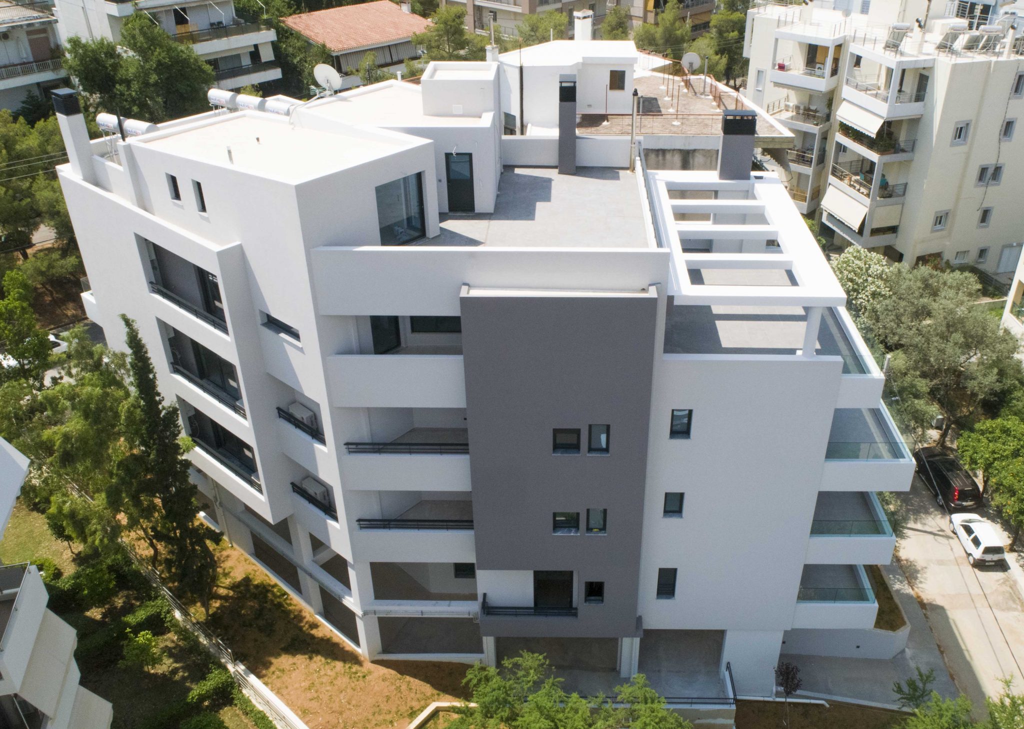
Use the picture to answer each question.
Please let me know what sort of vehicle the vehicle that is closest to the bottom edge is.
car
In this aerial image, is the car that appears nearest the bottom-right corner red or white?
white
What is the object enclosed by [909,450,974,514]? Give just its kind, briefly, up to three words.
car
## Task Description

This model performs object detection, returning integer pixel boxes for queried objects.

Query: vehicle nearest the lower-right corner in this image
[944,515,1008,575]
